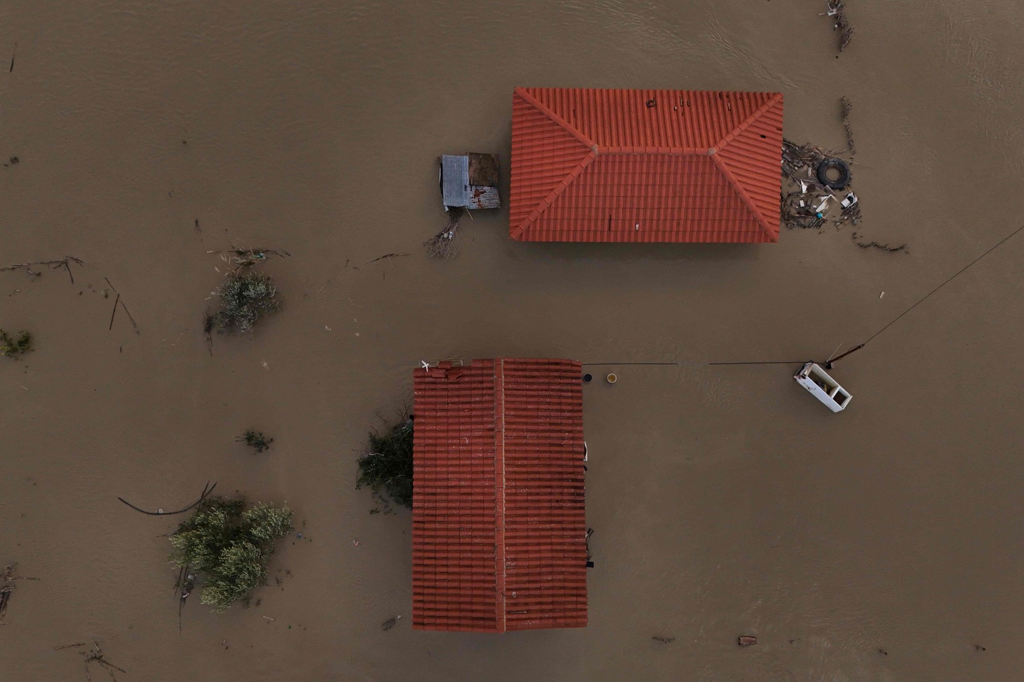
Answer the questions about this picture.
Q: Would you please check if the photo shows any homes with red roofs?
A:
Yes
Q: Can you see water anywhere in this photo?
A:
Yes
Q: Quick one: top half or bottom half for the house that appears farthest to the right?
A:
top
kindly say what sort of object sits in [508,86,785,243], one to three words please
house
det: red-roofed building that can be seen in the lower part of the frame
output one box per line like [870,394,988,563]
[412,359,588,636]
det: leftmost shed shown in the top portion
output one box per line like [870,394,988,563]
[438,152,501,212]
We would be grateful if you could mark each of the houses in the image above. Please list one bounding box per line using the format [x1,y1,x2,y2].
[508,86,785,243]
[412,359,588,636]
